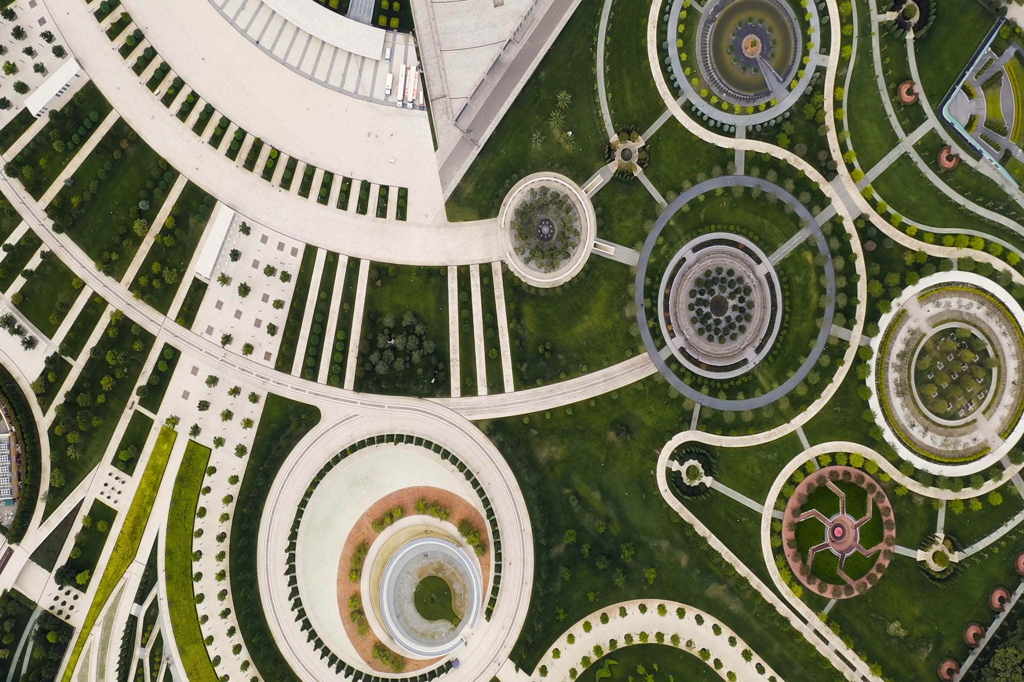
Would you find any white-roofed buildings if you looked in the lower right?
No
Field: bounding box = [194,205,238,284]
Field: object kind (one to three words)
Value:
building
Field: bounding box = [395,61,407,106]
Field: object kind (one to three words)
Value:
vehicle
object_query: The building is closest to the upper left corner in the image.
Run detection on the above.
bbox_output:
[24,57,87,120]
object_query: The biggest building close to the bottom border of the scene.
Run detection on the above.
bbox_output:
[379,534,483,657]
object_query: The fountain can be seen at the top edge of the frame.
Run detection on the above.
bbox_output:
[695,0,802,107]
